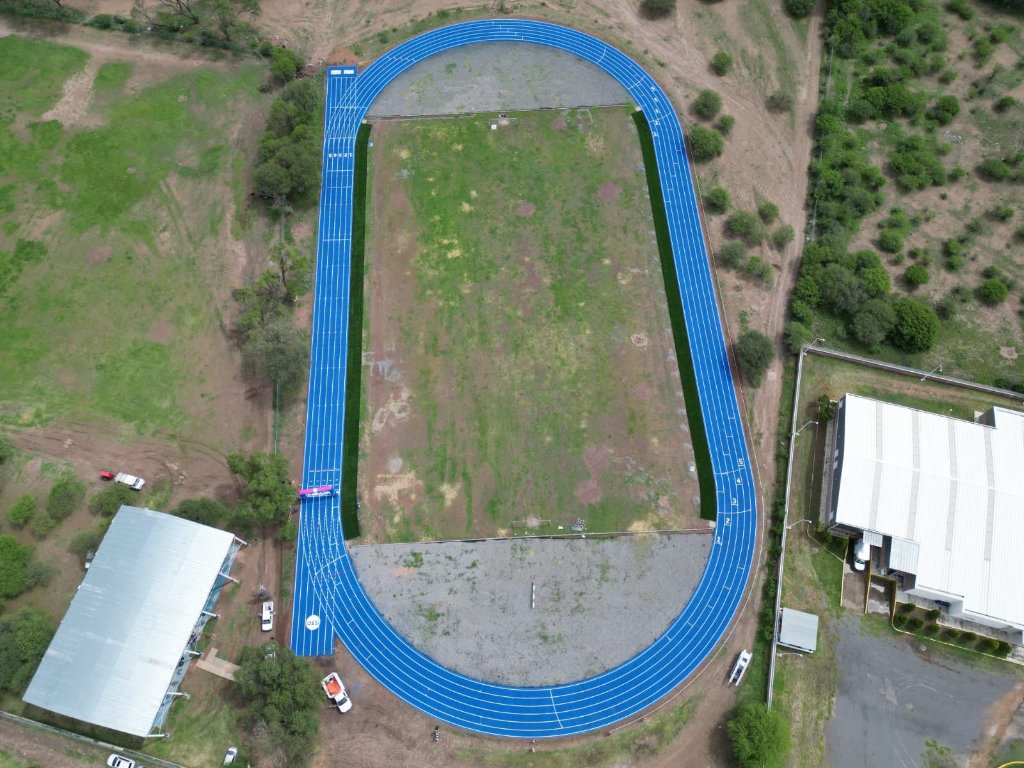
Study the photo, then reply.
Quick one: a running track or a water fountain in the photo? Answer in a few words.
running track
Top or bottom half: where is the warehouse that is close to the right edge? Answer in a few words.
bottom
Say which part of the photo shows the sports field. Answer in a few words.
center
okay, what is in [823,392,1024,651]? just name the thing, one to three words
warehouse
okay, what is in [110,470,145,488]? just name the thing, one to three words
vehicle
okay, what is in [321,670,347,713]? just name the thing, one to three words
truck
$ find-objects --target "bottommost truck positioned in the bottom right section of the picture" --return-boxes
[732,649,758,686]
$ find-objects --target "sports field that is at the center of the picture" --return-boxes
[352,106,710,544]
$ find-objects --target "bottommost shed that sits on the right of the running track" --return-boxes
[779,607,819,653]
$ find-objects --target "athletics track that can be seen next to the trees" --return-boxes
[291,19,757,738]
